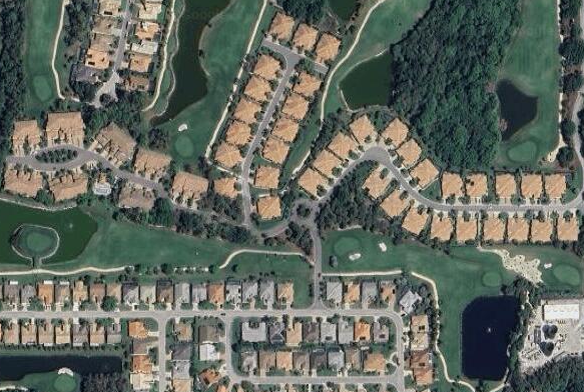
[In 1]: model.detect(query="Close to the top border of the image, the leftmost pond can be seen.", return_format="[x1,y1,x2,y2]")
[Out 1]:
[153,0,232,123]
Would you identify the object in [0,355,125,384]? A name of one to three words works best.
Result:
pond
